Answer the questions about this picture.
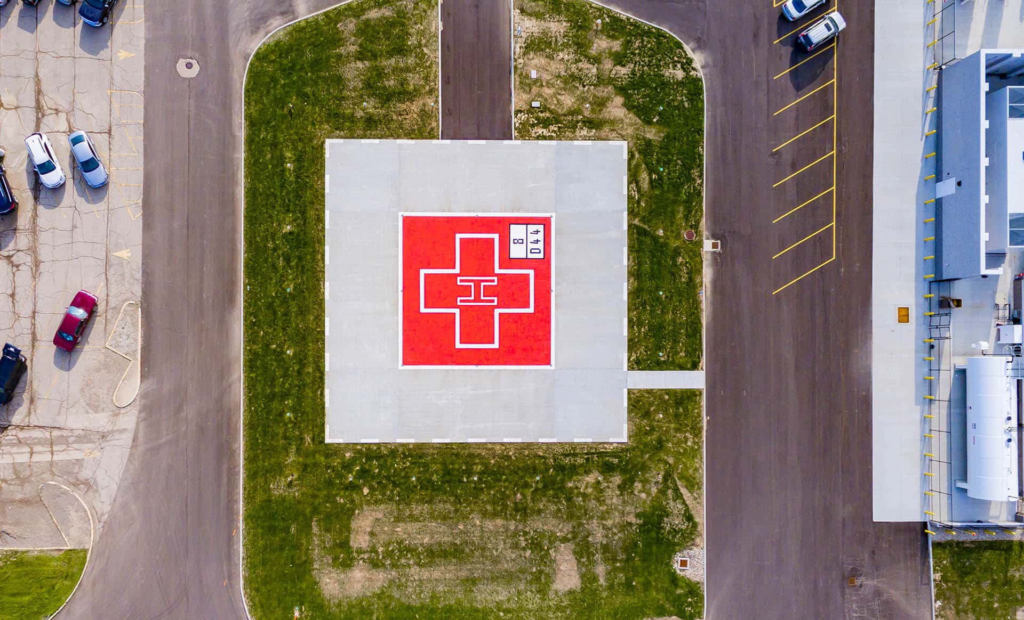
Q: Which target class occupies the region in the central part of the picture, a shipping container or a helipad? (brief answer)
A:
helipad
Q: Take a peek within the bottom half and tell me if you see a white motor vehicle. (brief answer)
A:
No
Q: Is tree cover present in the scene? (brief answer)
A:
No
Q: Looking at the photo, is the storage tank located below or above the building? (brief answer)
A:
below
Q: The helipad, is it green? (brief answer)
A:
No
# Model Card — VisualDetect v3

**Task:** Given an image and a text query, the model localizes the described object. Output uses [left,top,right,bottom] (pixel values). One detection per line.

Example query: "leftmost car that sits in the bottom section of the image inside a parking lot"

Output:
[0,348,25,402]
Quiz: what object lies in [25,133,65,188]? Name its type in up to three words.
car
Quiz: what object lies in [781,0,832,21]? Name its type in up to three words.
car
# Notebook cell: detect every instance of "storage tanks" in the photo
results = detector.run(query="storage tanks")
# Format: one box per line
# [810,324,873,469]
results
[956,352,1024,499]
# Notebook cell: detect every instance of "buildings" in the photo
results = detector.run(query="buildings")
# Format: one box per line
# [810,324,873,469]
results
[936,49,1024,281]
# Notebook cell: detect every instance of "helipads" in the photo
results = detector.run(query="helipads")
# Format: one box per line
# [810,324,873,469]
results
[326,139,628,442]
